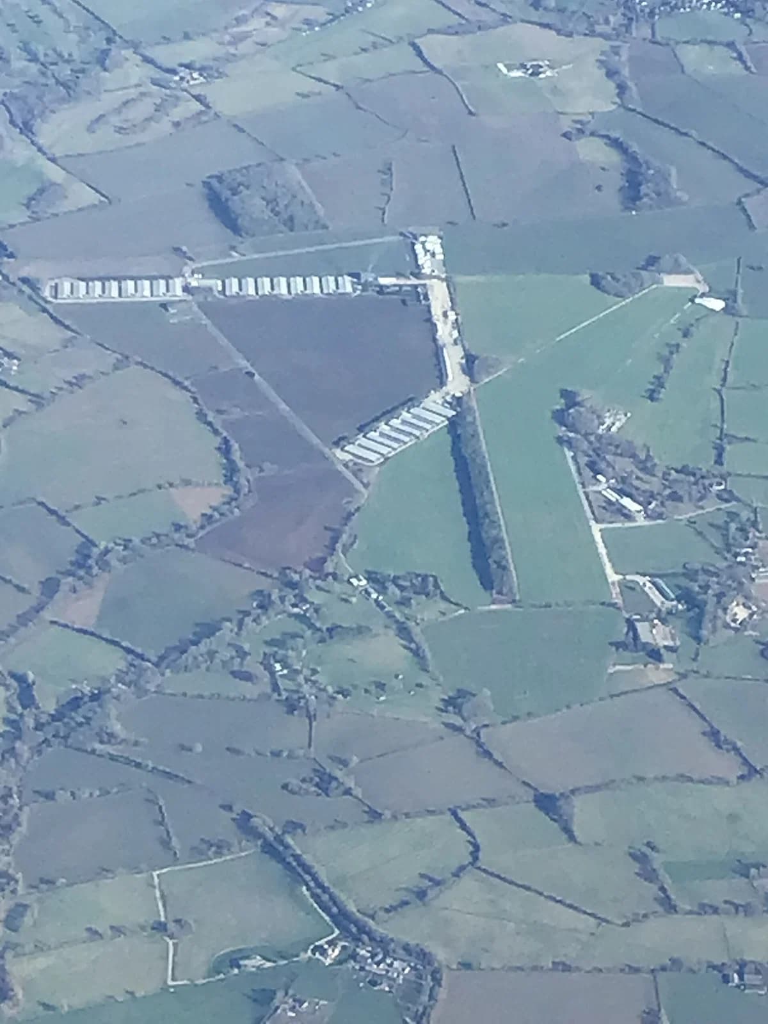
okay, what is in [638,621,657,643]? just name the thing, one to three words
barn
